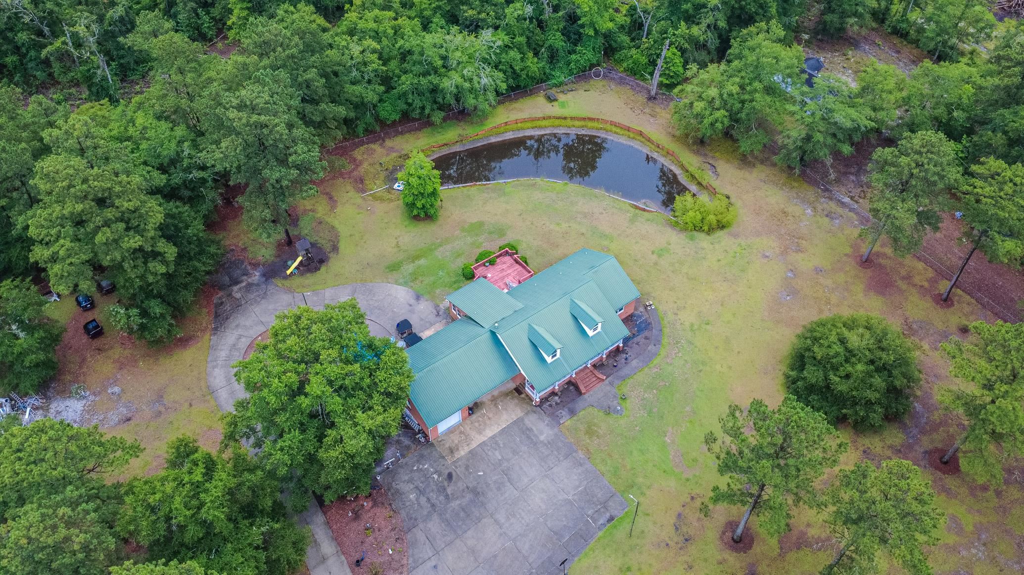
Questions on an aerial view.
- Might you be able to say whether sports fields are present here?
No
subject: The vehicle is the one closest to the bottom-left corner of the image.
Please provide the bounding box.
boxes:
[79,317,103,340]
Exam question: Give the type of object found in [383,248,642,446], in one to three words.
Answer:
house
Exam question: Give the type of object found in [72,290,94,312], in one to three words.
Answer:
car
